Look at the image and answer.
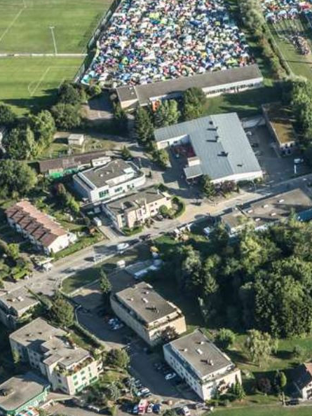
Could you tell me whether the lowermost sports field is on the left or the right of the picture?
left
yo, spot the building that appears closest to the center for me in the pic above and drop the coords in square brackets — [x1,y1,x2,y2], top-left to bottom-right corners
[112,185,173,229]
